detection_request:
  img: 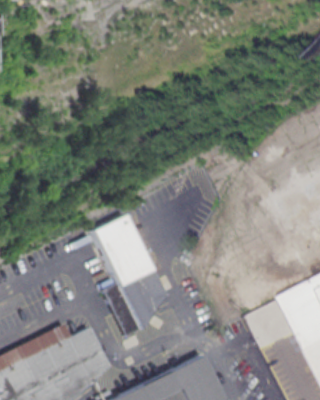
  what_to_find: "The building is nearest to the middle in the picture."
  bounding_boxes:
[87,213,170,336]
